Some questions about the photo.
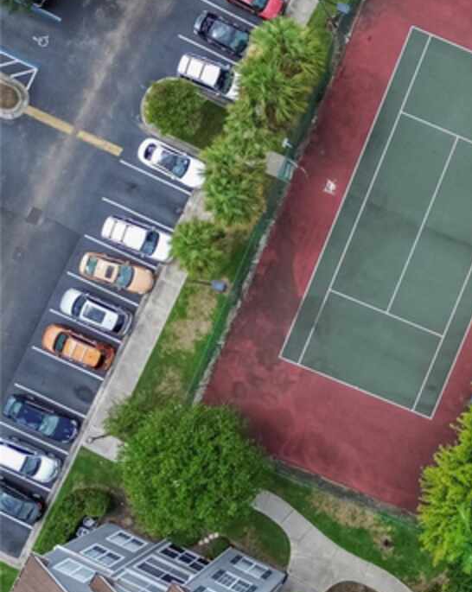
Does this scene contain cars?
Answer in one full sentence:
Yes, a car appears in the view.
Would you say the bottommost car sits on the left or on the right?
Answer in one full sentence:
The bottommost car sits on the left side.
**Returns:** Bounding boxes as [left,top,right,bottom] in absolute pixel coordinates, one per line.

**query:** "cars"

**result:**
[4,392,81,442]
[43,323,119,374]
[225,0,291,21]
[60,287,135,338]
[79,247,156,297]
[171,49,241,102]
[135,137,211,188]
[0,431,60,482]
[99,212,176,264]
[0,476,44,523]
[188,10,256,59]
